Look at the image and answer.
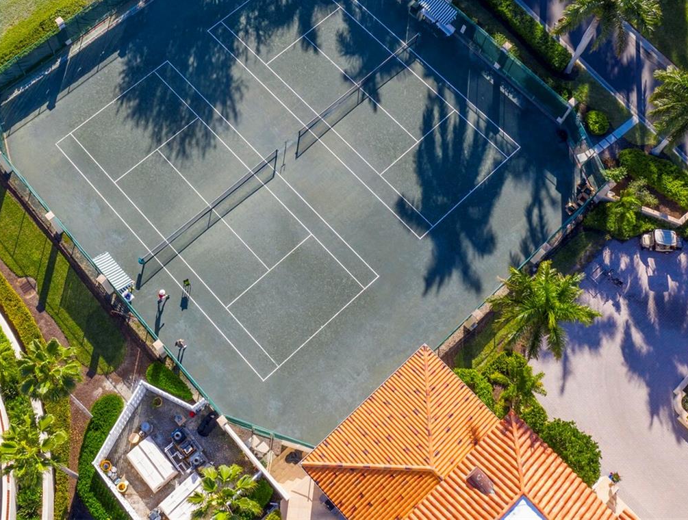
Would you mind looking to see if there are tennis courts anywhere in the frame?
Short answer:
Yes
